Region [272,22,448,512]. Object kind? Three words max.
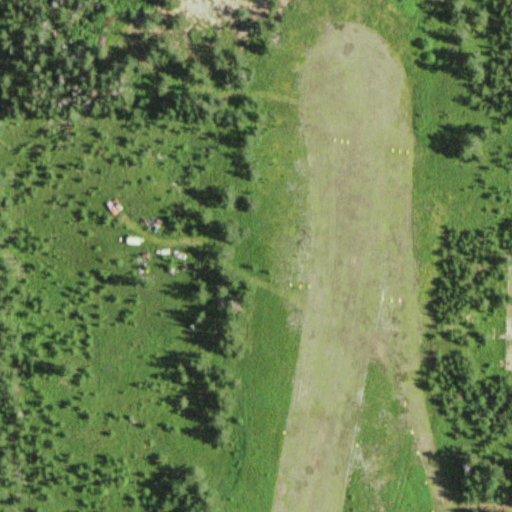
runway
